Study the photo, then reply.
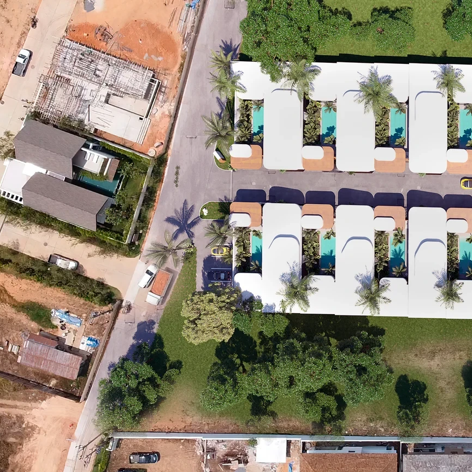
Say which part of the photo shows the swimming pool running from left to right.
left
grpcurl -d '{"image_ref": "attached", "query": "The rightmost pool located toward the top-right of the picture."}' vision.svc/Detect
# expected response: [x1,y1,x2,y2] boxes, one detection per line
[458,106,472,149]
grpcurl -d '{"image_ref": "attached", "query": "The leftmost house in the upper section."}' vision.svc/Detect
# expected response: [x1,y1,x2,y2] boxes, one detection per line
[0,120,121,230]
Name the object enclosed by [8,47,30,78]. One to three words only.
truck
